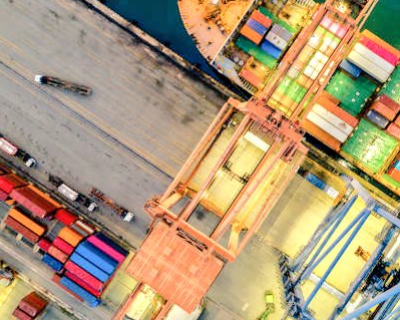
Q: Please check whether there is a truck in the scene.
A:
Yes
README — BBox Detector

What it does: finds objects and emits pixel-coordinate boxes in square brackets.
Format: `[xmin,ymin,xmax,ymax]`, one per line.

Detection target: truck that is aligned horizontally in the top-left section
[32,71,95,96]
